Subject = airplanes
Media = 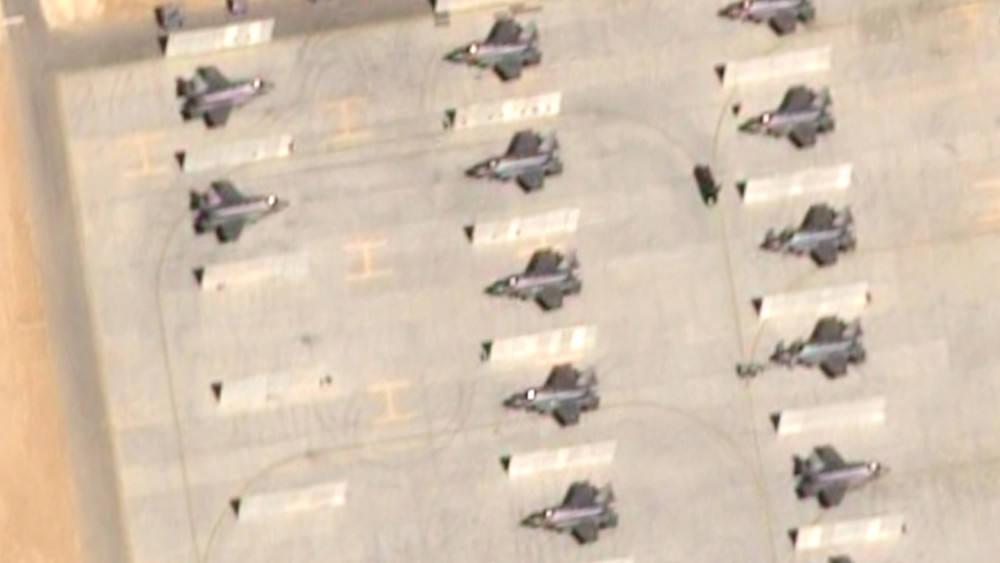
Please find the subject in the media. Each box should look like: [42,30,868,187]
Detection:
[184,62,274,122]
[803,445,890,504]
[452,17,542,75]
[768,203,856,261]
[777,317,867,377]
[197,179,288,239]
[510,363,602,423]
[727,0,814,30]
[492,248,583,307]
[473,131,563,189]
[746,86,834,144]
[528,479,620,540]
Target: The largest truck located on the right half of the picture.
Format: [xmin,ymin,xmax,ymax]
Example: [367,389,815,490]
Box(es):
[694,164,723,211]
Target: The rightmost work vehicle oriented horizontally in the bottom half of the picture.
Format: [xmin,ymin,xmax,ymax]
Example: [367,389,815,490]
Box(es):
[736,363,775,380]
